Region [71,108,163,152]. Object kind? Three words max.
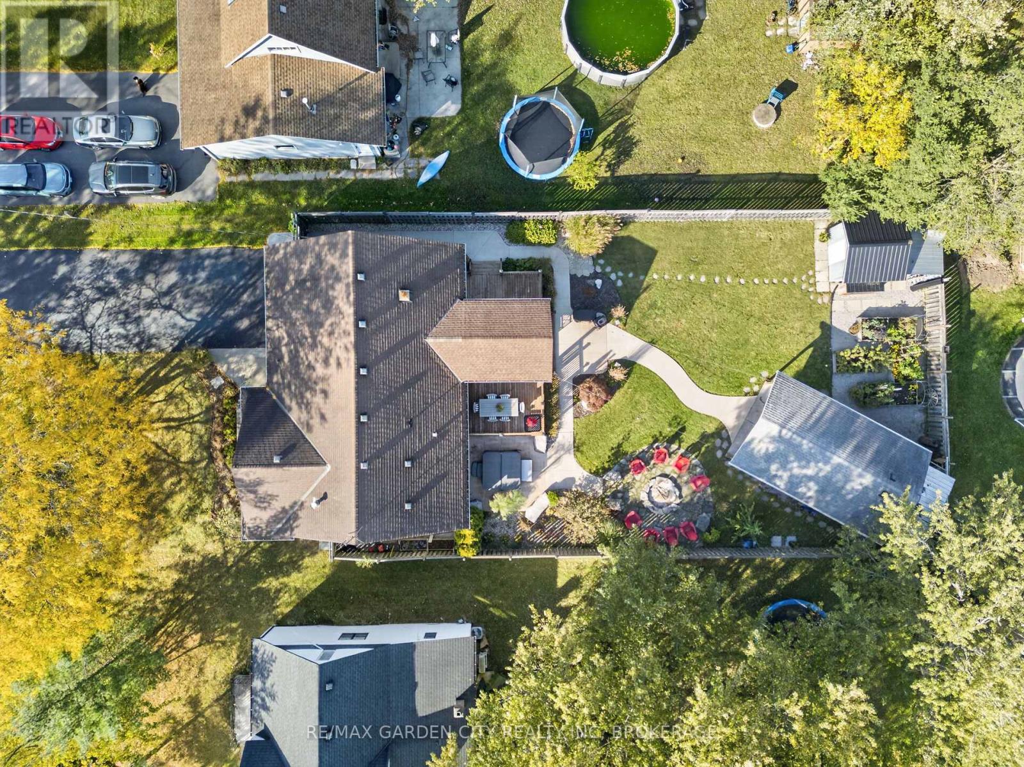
car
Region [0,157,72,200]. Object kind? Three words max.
car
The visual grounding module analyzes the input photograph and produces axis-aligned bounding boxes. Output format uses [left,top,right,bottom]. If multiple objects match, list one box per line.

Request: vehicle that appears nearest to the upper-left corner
[0,110,65,152]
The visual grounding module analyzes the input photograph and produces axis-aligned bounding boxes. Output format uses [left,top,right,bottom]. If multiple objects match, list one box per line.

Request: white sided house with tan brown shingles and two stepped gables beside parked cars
[175,0,389,160]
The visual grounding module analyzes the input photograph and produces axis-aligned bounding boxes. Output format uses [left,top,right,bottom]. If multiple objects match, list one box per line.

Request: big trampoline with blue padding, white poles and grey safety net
[497,83,587,182]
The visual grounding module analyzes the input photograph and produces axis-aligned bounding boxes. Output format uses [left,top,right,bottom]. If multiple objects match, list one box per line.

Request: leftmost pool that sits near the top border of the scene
[559,0,680,87]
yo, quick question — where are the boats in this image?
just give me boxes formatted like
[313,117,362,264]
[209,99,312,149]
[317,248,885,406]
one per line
[416,150,450,187]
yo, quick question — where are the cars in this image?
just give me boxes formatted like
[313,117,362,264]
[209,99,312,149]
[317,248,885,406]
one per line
[71,108,163,152]
[0,157,72,200]
[88,157,179,201]
[0,110,65,152]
